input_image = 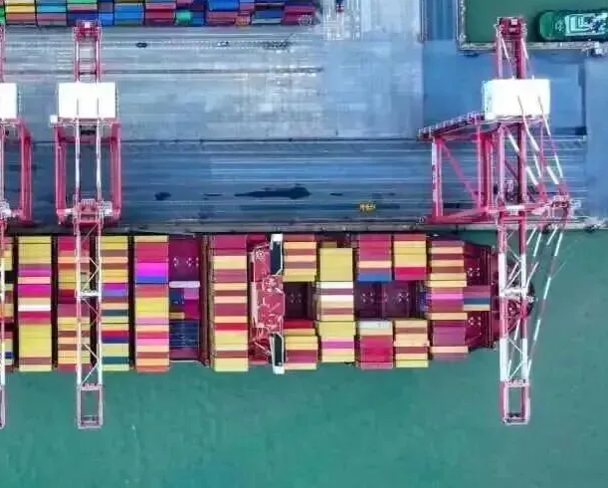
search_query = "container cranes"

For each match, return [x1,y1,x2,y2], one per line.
[419,17,576,427]
[0,19,39,429]
[49,19,123,429]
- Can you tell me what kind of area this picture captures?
port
